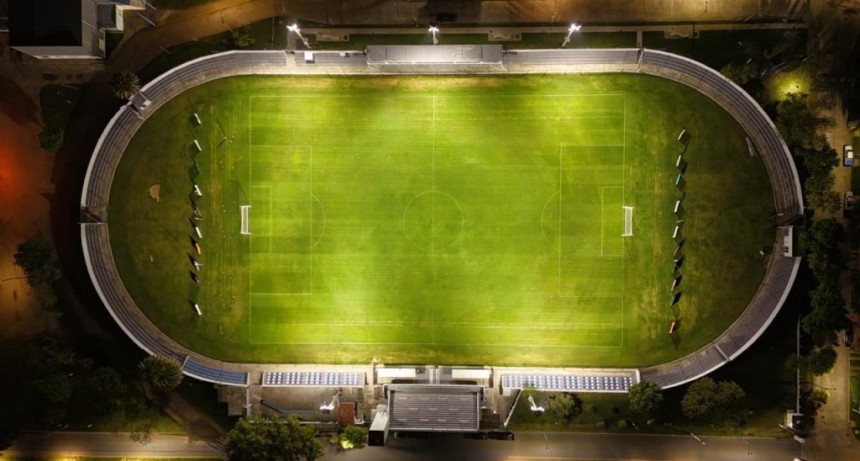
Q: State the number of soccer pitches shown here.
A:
one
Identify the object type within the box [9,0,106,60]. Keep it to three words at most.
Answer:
building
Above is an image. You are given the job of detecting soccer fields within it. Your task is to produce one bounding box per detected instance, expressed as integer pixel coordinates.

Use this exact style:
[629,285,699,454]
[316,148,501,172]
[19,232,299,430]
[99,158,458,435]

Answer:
[249,94,624,348]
